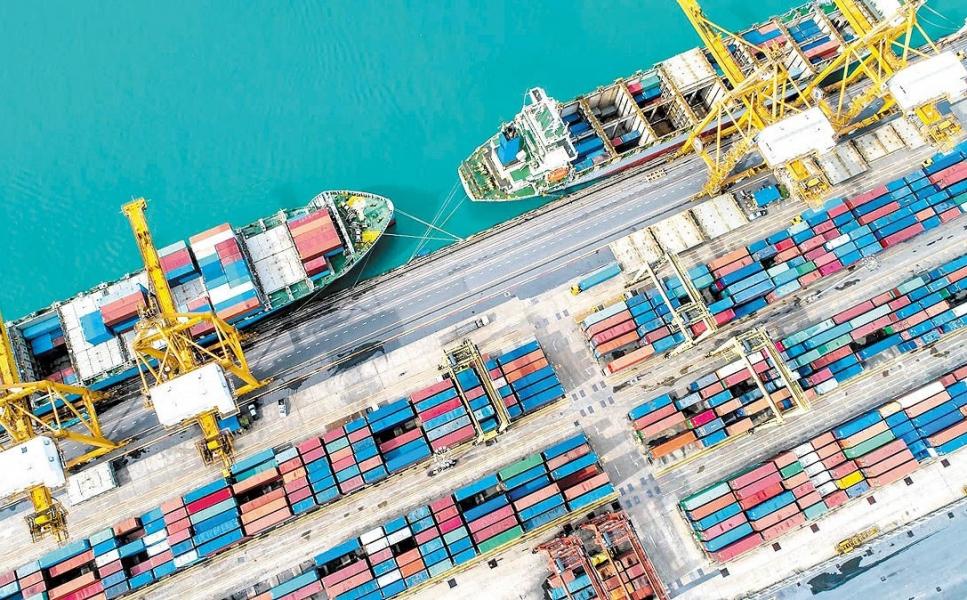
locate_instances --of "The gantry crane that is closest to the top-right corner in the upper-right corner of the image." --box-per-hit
[782,0,967,153]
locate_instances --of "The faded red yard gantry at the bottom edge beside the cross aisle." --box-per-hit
[576,500,670,600]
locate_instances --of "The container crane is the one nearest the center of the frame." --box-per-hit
[437,337,521,446]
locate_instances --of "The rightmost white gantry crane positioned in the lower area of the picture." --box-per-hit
[704,324,818,436]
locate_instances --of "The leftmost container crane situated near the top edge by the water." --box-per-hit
[670,0,836,211]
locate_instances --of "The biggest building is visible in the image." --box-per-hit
[68,460,122,503]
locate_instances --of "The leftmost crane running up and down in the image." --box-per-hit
[0,265,148,564]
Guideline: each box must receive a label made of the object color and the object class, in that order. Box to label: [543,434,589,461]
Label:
blue shipping container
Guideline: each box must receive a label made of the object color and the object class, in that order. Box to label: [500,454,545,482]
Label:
green shipping container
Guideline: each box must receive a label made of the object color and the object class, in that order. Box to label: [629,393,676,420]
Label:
blue shipping container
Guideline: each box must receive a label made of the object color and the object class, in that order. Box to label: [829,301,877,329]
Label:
pink shipping container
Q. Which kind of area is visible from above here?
port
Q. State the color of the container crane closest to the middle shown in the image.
white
